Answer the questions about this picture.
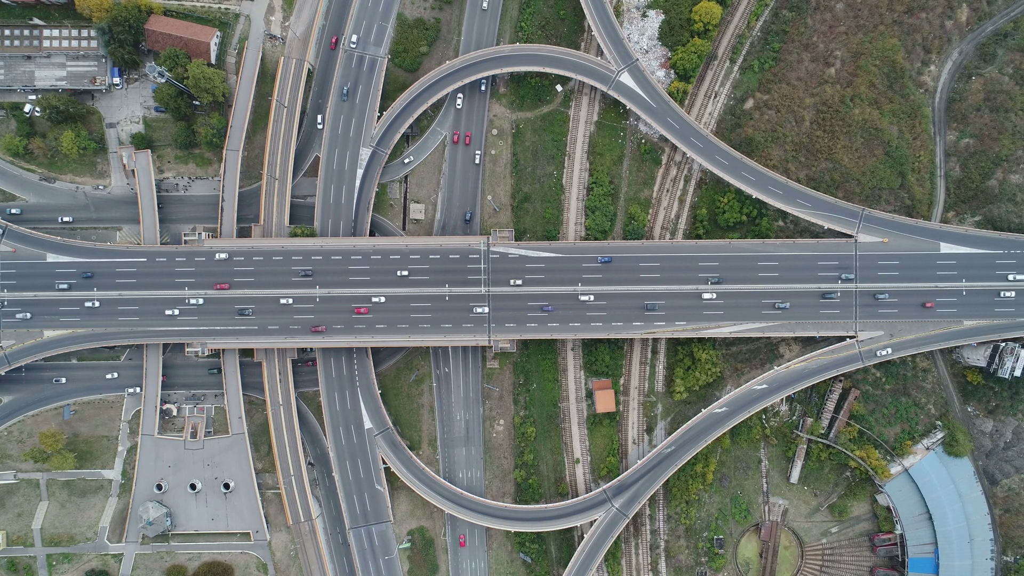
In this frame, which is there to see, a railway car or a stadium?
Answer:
railway car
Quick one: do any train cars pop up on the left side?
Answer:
No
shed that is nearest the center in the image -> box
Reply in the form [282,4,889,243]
[589,379,616,413]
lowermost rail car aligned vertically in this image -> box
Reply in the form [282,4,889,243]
[785,415,813,483]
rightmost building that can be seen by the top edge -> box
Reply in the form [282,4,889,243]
[144,15,224,65]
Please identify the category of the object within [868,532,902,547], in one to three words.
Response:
rail car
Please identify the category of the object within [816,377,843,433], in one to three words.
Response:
rail car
